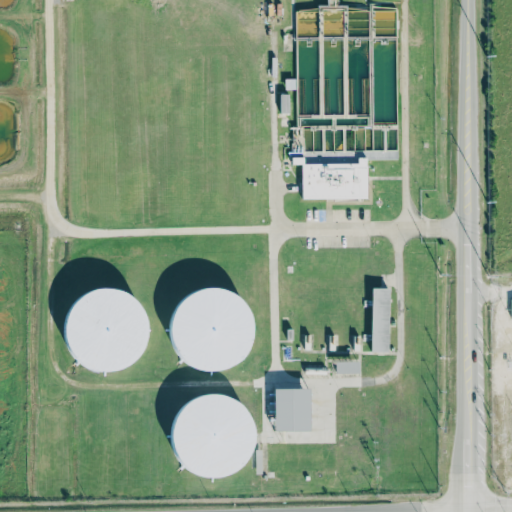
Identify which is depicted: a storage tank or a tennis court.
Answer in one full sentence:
It is a storage tank that can be seen here.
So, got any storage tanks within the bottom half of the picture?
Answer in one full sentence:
Yes, the scene does show a storage tank within the bottom half of the picture.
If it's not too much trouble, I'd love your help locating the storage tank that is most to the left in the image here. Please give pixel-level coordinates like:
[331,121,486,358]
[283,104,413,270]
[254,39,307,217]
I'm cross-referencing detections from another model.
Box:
[61,288,148,374]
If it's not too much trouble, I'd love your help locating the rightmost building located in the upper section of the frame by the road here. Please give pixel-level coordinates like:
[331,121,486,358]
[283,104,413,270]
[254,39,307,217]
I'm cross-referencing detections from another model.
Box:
[292,158,368,202]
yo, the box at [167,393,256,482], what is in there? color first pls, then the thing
white storage tank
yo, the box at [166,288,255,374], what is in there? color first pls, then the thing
white storage tank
